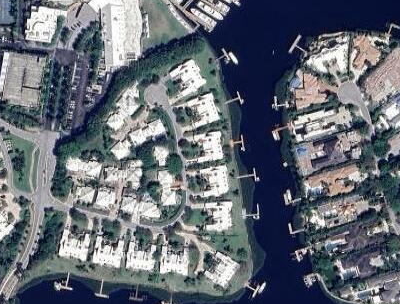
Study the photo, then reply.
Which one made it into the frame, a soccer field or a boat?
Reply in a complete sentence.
The image shows a boat.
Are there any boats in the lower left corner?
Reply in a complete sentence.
No, in the lower left corner there is no boat.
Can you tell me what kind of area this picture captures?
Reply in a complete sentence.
What you see here is a residential area.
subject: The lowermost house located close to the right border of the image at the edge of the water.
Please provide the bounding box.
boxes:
[344,266,400,304]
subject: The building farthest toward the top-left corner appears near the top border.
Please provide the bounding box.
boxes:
[24,8,60,45]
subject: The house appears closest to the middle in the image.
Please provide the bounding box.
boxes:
[189,133,222,163]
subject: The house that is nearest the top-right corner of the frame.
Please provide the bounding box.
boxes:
[349,34,383,70]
